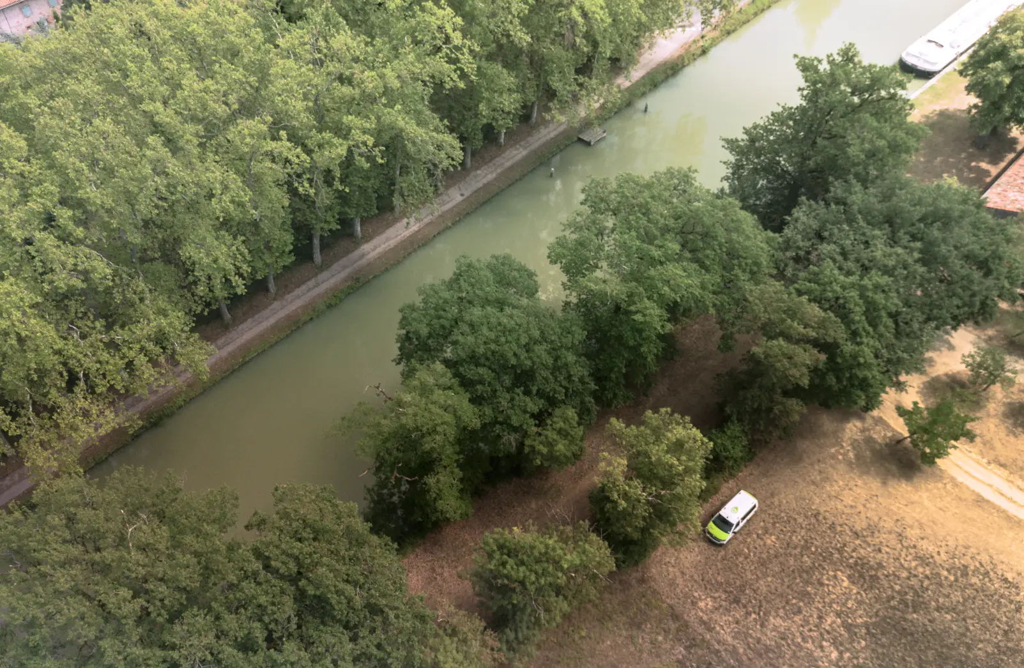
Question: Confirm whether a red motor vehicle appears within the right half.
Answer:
No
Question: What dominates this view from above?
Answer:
trees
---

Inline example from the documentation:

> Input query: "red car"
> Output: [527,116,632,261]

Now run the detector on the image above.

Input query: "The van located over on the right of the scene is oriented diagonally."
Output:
[707,487,763,542]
